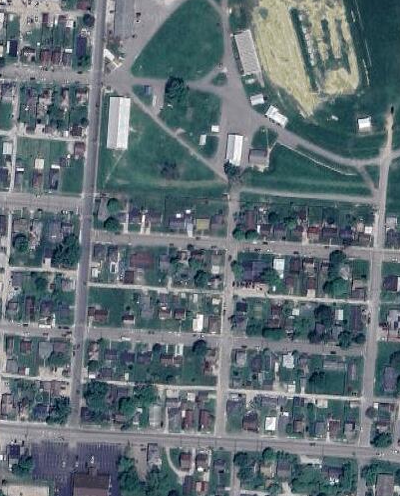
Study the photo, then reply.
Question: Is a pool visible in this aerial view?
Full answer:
No, there appears to be no pool in this shot.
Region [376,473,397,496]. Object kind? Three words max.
building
